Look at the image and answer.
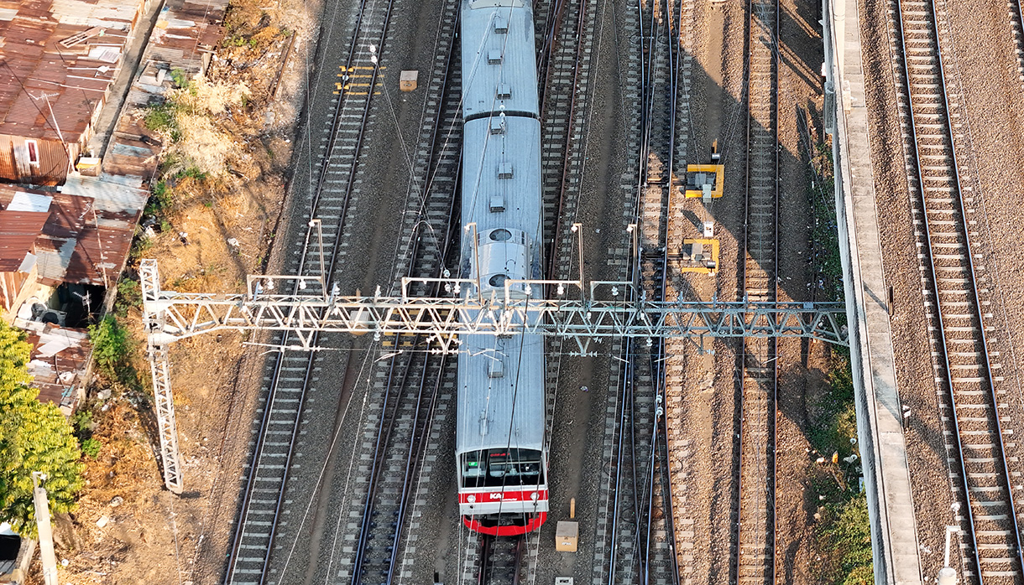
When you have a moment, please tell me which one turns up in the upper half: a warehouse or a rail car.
rail car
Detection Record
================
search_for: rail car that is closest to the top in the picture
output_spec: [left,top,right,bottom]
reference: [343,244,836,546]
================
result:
[458,0,539,133]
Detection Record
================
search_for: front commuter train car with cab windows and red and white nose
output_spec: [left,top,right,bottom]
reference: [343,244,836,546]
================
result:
[452,114,550,536]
